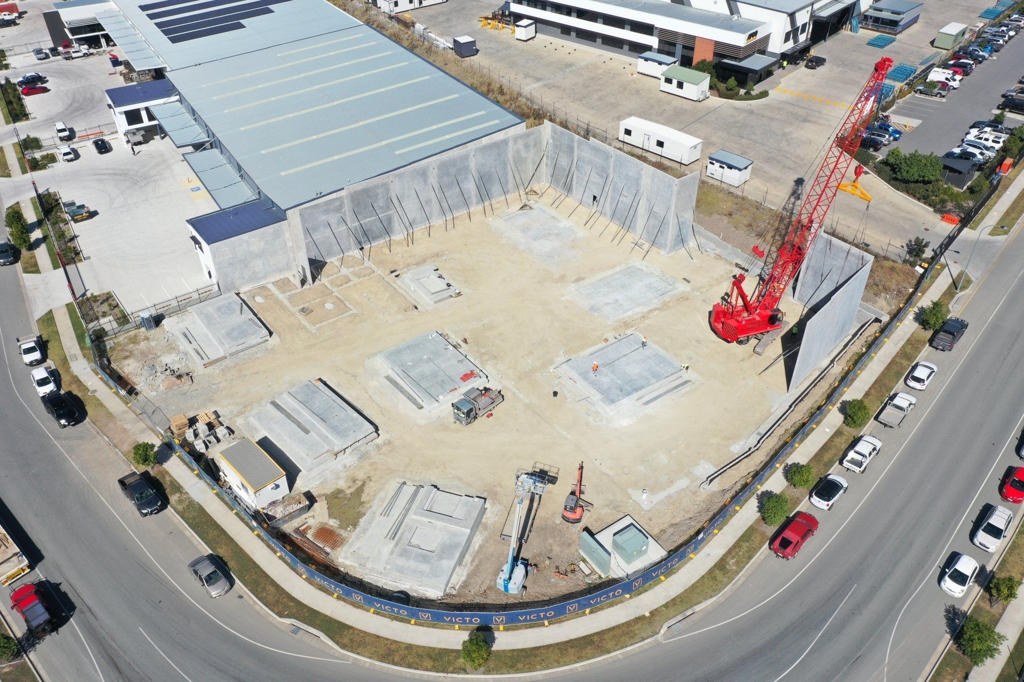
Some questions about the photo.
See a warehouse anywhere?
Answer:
Yes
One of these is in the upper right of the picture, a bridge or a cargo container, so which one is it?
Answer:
cargo container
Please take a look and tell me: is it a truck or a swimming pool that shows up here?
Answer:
truck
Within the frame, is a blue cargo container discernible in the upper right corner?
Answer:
No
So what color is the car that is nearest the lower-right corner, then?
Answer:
white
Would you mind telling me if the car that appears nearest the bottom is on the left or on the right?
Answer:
left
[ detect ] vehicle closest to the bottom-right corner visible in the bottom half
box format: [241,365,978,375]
[940,550,980,601]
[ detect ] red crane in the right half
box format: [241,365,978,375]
[711,63,892,359]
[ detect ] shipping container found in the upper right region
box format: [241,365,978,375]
[935,22,968,49]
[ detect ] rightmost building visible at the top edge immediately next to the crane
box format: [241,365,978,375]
[862,0,924,42]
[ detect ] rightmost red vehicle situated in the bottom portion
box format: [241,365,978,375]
[1000,462,1024,504]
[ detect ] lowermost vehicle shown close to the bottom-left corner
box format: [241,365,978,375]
[10,580,54,634]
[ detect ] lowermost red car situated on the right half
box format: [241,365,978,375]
[773,514,816,559]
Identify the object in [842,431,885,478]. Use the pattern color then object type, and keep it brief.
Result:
white truck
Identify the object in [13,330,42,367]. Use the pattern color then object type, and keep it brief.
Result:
white truck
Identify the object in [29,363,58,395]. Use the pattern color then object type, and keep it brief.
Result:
white car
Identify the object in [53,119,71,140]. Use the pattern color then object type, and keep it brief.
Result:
white car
